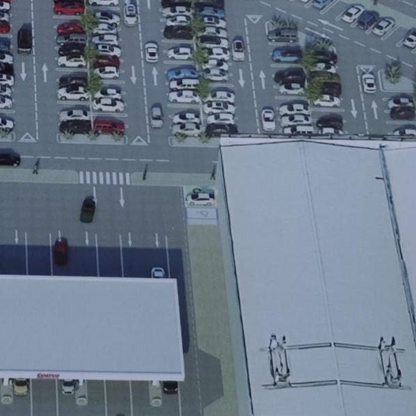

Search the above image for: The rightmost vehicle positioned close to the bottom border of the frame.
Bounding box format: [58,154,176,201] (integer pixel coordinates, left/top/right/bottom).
[163,379,178,396]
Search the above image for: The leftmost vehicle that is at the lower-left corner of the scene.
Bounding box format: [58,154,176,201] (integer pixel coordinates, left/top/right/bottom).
[14,377,29,399]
